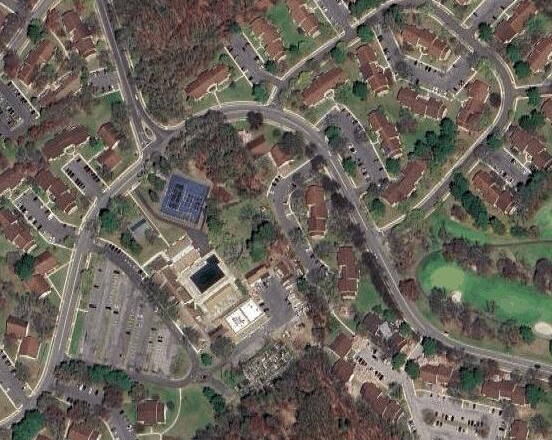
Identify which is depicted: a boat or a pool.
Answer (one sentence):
This aerial view contains a pool.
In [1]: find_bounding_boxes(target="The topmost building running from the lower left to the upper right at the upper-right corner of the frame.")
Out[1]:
[492,4,538,45]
